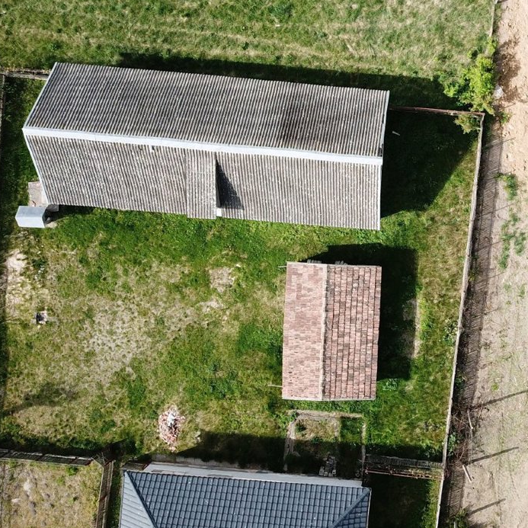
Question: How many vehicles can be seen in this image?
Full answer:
The count of vehicles is 0.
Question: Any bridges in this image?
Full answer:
No, no bridge can be seen from above.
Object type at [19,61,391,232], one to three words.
barn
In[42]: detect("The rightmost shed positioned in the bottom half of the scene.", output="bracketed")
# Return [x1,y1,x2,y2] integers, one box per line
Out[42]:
[268,260,382,403]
